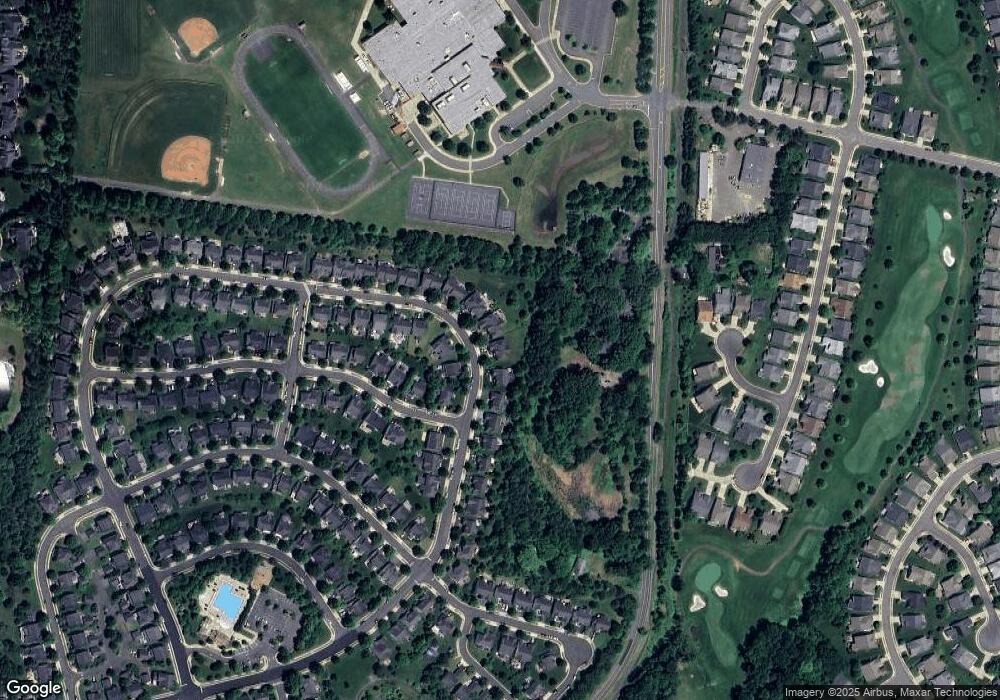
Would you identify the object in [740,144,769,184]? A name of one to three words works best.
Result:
building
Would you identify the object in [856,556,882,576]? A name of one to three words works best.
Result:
house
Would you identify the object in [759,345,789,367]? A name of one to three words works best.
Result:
house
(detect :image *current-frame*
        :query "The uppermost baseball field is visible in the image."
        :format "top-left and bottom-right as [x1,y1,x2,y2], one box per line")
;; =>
[179,18,219,56]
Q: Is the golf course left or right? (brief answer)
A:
right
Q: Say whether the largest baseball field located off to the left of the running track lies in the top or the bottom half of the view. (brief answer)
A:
top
